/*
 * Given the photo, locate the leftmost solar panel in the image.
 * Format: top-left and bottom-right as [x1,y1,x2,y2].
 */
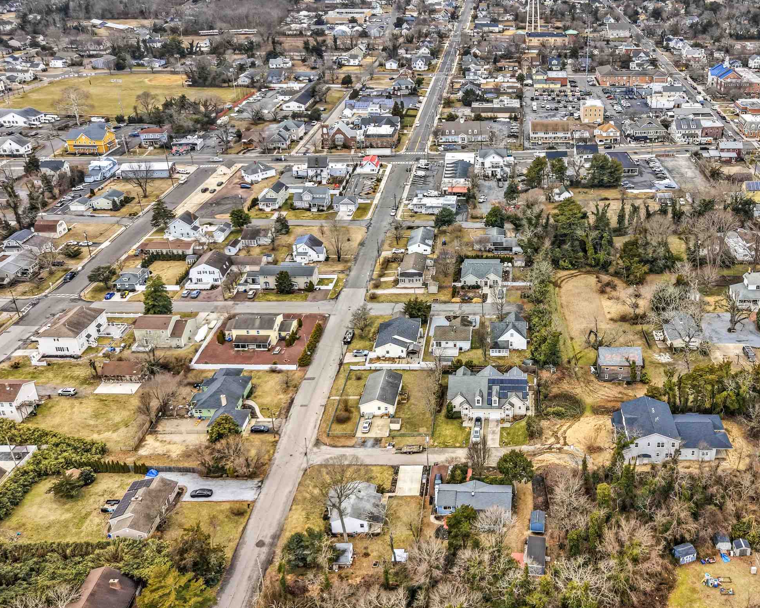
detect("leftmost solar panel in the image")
[121,479,155,512]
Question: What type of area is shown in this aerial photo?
residential area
